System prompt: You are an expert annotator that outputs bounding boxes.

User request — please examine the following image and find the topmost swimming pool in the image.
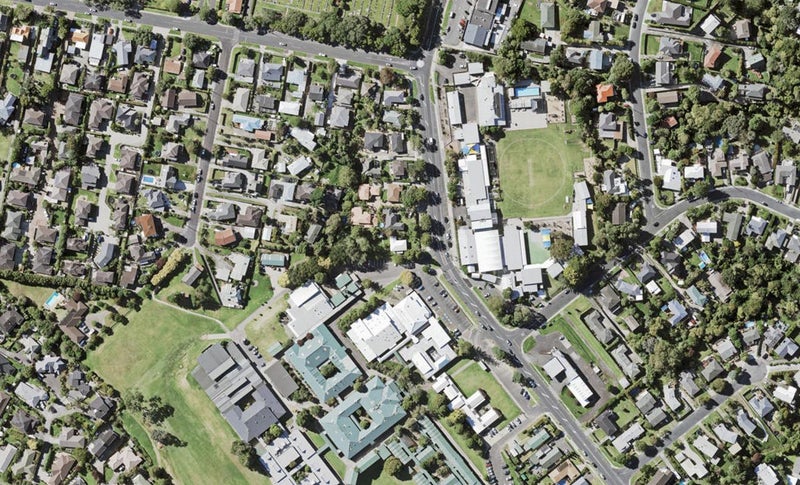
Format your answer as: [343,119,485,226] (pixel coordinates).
[512,84,542,99]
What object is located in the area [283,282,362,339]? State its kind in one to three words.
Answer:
building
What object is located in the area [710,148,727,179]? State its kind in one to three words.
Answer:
house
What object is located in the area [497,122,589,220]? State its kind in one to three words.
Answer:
sports field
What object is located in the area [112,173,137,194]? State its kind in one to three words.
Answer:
house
